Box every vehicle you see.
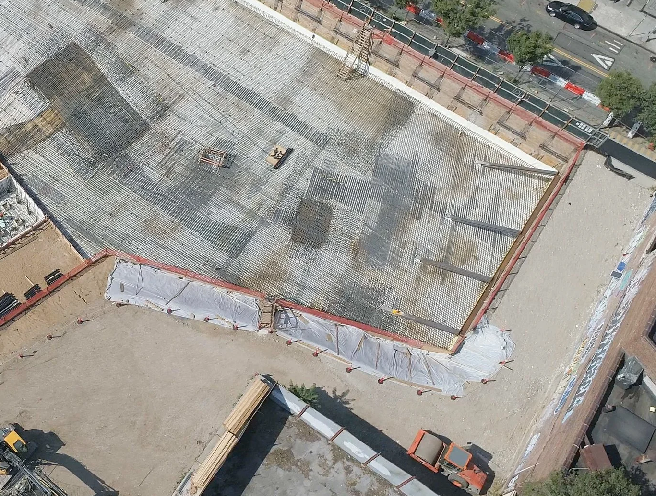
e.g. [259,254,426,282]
[415,436,493,496]
[549,6,597,36]
[0,420,67,496]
